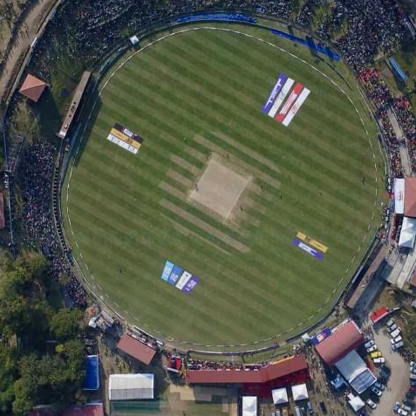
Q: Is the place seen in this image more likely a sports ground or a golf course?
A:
sports ground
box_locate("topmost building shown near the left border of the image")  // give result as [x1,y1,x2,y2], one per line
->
[19,75,49,101]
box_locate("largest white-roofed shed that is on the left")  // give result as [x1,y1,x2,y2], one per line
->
[109,372,154,400]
